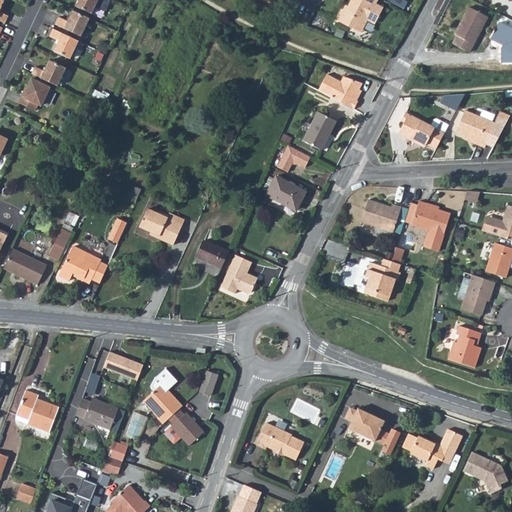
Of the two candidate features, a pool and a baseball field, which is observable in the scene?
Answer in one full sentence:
Visible in the photo is a pool.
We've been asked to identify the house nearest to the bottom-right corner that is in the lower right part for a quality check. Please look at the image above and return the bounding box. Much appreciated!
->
[464,452,510,492]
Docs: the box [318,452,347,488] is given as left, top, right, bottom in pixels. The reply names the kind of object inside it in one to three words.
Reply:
swimming pool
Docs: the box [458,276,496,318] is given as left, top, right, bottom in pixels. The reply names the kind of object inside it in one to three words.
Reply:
house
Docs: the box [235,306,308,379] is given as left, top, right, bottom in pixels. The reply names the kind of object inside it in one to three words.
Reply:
roundabout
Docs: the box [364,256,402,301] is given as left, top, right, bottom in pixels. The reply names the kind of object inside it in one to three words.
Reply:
house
